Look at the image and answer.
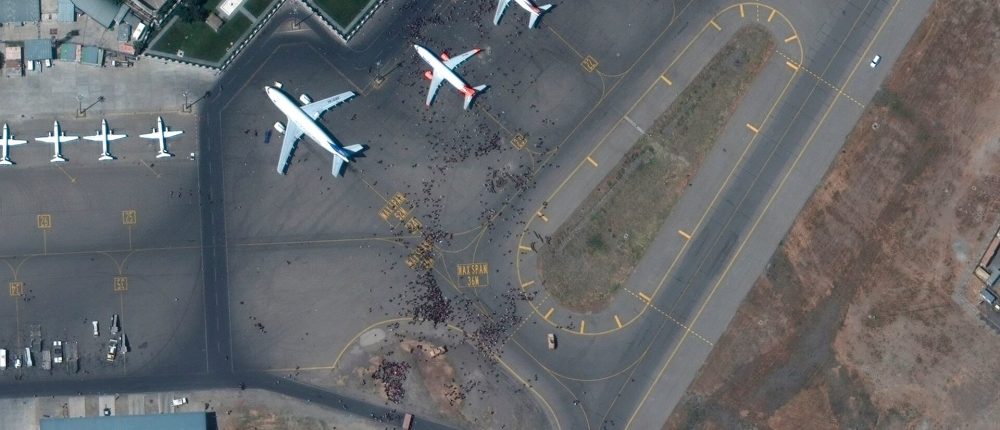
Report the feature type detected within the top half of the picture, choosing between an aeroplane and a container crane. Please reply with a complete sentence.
Visible within the top half of the picture is an aeroplane.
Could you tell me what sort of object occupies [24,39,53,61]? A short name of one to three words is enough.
shed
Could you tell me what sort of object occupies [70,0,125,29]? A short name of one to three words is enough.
hangar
